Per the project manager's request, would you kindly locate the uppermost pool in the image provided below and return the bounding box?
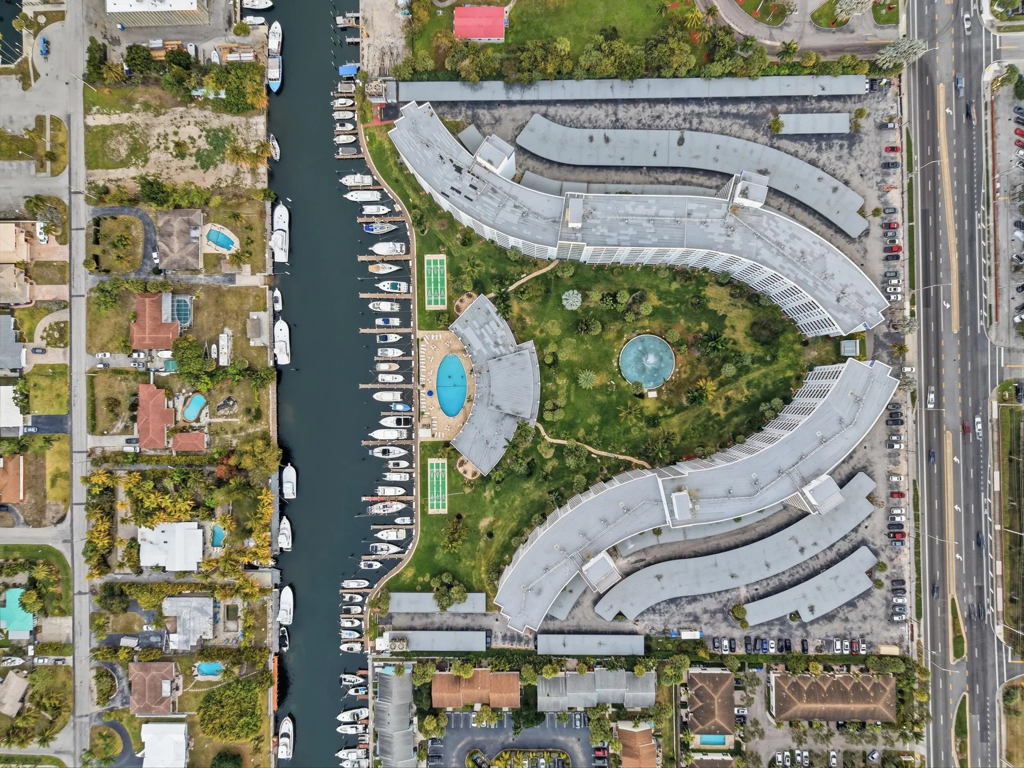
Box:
[205,228,235,251]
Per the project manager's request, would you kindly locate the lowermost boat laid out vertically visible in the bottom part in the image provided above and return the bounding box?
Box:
[272,716,292,762]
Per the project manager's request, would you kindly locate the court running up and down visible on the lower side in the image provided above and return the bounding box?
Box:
[428,458,447,514]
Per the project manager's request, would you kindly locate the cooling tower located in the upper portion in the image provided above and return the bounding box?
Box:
[365,84,383,96]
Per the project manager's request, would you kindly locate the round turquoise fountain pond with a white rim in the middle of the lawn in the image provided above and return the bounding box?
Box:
[620,334,675,389]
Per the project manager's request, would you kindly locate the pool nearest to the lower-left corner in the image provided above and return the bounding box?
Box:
[197,662,223,677]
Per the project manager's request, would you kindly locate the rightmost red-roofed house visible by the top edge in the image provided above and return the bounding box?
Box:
[454,7,504,42]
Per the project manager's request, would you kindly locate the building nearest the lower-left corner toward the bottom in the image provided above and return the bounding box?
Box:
[0,669,29,719]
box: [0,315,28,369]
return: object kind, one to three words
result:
house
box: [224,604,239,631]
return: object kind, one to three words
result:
swimming pool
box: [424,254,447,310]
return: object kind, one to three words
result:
sports court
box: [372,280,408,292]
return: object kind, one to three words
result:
boat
